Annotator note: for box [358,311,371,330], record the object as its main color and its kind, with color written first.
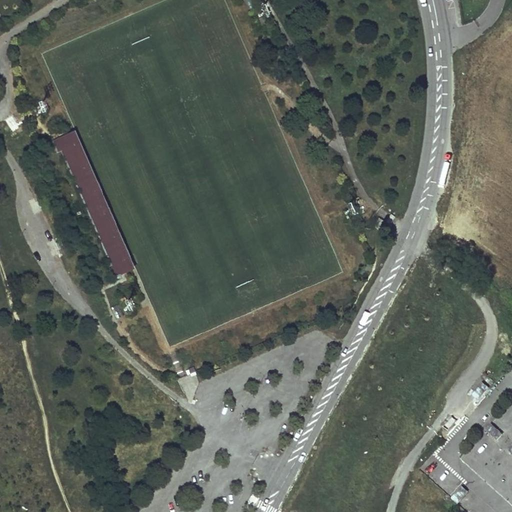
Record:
white vehicle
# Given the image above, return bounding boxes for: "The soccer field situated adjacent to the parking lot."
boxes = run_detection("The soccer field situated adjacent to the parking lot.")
[41,0,343,348]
